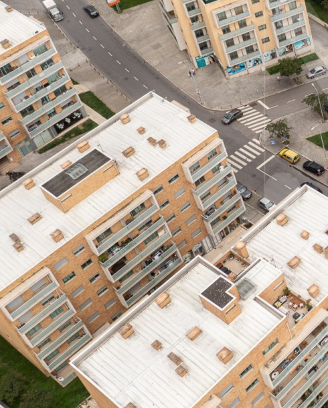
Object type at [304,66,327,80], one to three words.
car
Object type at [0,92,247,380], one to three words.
building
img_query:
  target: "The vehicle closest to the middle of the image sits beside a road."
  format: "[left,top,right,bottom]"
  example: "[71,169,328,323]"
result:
[235,183,256,200]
